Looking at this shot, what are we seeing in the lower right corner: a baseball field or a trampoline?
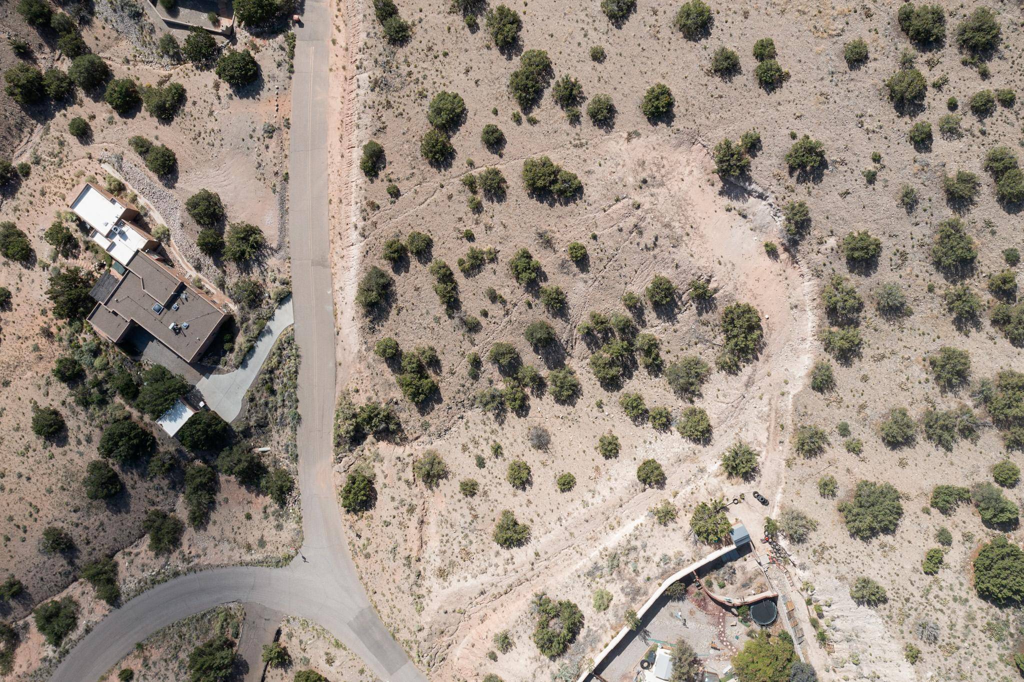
trampoline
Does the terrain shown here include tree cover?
Yes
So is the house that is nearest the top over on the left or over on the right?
left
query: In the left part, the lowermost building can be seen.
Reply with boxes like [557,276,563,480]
[156,396,202,437]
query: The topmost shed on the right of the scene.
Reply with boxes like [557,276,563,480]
[727,522,750,547]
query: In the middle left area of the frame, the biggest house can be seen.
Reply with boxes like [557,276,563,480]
[69,183,232,362]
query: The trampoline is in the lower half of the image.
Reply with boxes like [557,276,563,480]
[750,599,777,626]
